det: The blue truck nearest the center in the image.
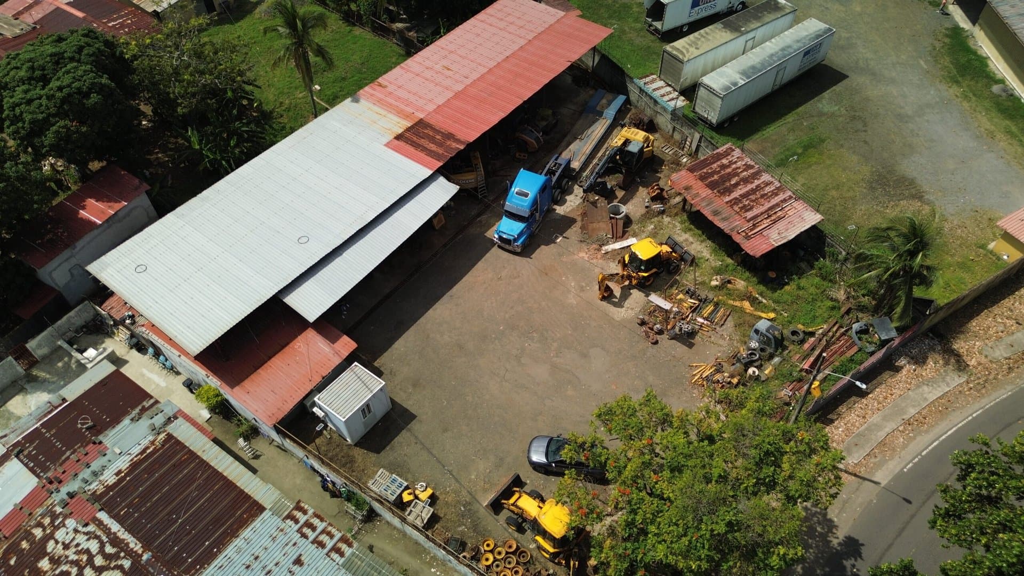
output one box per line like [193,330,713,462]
[493,165,574,253]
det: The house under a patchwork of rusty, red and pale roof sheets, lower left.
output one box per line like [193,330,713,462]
[0,359,399,576]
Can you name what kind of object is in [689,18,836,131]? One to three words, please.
trailer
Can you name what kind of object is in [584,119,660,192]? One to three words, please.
work vehicle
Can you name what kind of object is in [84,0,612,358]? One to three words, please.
shed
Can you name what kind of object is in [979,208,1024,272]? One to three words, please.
shed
